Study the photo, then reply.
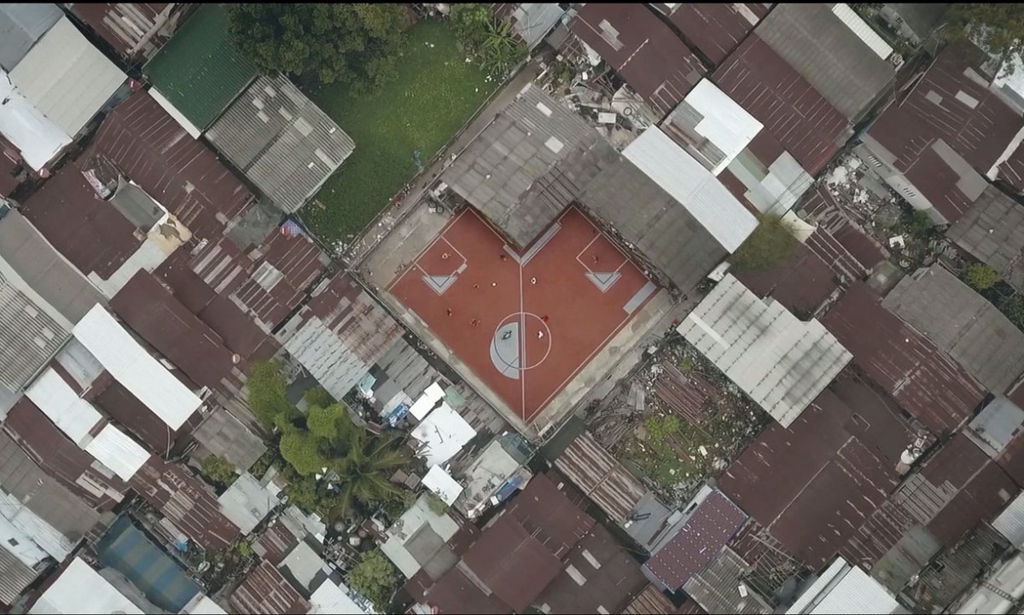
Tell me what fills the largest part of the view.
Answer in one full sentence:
The scene is dominated by buildings.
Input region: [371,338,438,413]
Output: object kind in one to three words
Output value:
house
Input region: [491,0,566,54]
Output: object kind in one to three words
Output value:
house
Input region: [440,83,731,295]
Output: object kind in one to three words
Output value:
building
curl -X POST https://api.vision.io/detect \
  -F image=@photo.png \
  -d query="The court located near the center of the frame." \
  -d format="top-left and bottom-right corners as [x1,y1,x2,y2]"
[385,201,670,427]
